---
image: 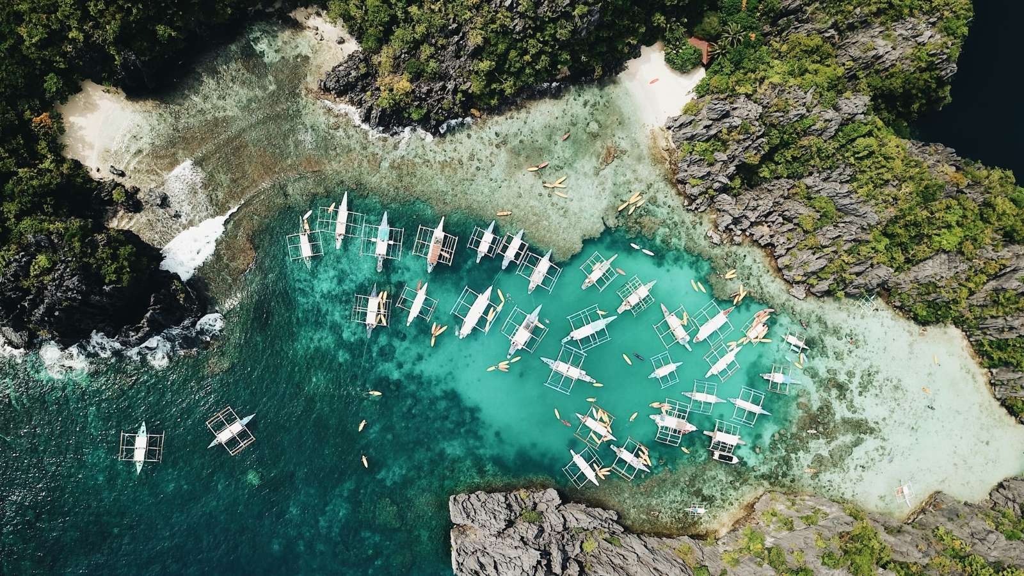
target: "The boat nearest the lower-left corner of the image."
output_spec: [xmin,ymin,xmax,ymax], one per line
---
[119,422,164,476]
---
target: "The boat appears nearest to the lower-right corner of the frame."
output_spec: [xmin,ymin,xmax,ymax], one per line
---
[895,479,917,508]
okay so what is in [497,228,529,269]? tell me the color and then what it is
white boat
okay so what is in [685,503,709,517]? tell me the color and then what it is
white boat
